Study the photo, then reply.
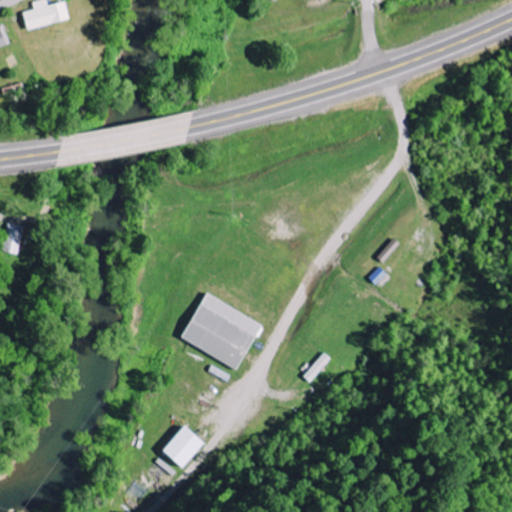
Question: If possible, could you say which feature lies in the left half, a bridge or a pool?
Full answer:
The feature located in the left half is a bridge.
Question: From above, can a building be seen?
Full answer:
Yes, this view includes a building.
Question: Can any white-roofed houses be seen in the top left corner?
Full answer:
Yes, there is a white-roofed house in the top left corner.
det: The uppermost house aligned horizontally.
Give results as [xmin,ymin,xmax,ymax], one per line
[22,1,70,30]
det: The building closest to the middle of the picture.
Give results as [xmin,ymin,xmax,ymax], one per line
[180,292,265,370]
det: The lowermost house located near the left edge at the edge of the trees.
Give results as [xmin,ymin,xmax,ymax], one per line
[2,224,20,255]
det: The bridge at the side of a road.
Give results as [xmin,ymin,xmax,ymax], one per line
[56,108,194,170]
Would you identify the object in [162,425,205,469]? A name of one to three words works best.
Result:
barn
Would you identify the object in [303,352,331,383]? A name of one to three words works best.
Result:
house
